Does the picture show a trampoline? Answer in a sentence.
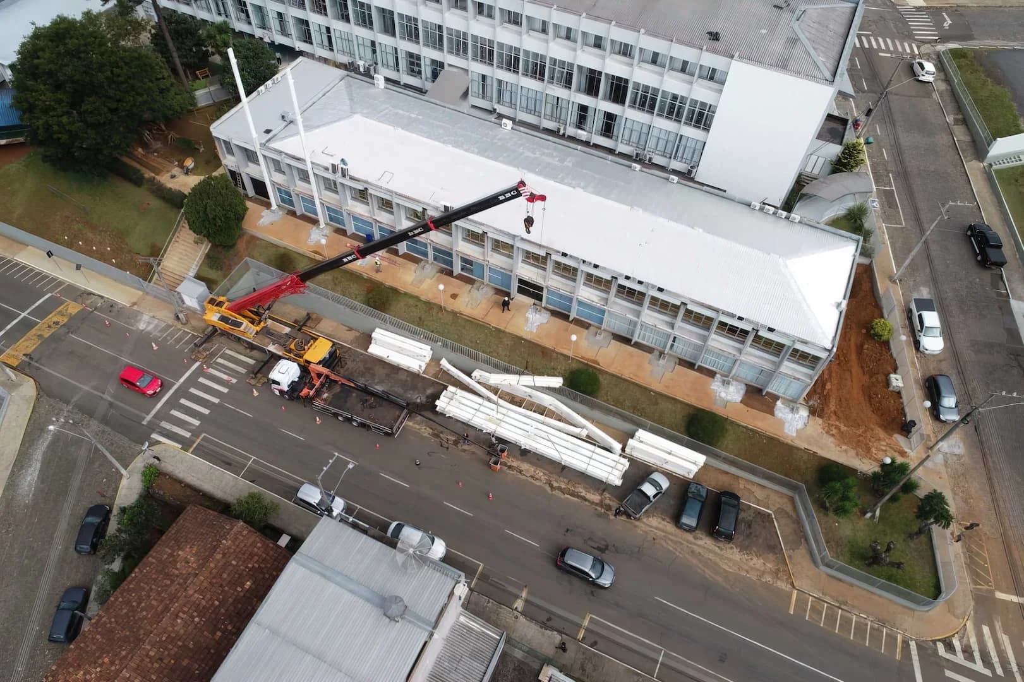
No, there's no trampoline here.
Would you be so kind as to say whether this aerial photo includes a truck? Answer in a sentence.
Yes, there is a truck in the image.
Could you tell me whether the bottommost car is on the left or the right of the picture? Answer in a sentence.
The bottommost car appears in the left half of the scene.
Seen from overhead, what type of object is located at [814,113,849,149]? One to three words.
shed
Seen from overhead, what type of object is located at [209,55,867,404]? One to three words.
building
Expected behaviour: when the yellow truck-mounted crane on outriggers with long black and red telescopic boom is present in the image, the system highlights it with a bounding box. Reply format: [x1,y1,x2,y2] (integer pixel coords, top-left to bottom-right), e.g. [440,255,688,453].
[191,179,546,387]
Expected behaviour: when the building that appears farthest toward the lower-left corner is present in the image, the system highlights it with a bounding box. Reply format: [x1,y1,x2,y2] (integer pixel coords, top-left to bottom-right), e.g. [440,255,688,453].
[43,503,290,682]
